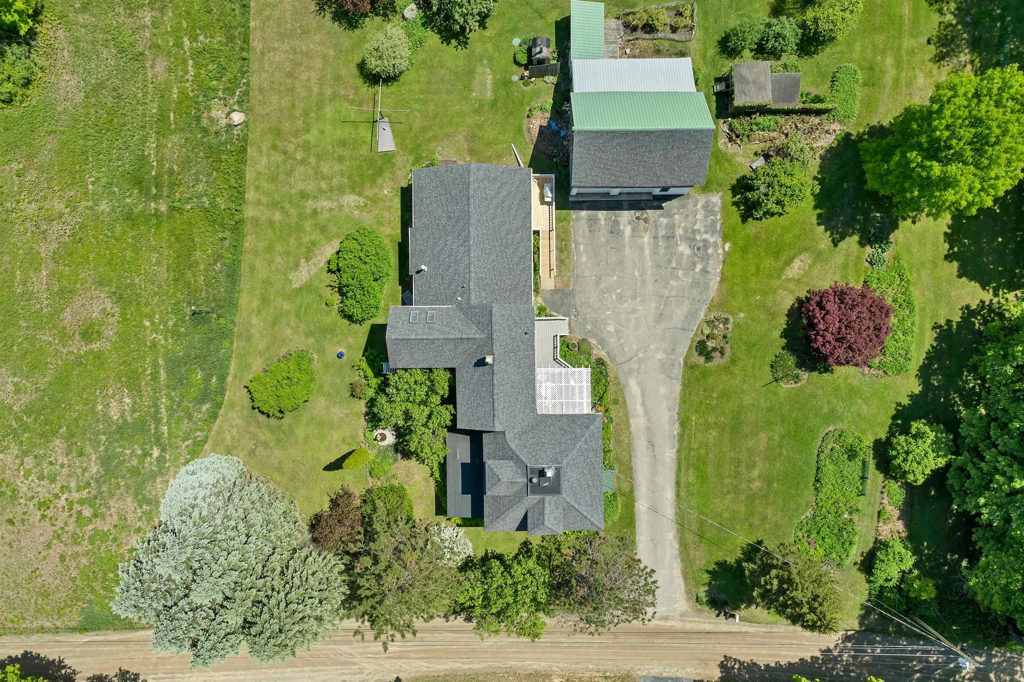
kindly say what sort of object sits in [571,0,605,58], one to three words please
shed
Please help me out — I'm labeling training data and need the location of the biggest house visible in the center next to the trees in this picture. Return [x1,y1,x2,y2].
[385,163,615,536]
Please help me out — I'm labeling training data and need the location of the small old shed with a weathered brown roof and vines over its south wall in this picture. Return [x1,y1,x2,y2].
[726,59,801,110]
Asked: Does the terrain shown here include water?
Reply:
No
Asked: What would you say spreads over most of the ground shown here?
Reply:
grass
